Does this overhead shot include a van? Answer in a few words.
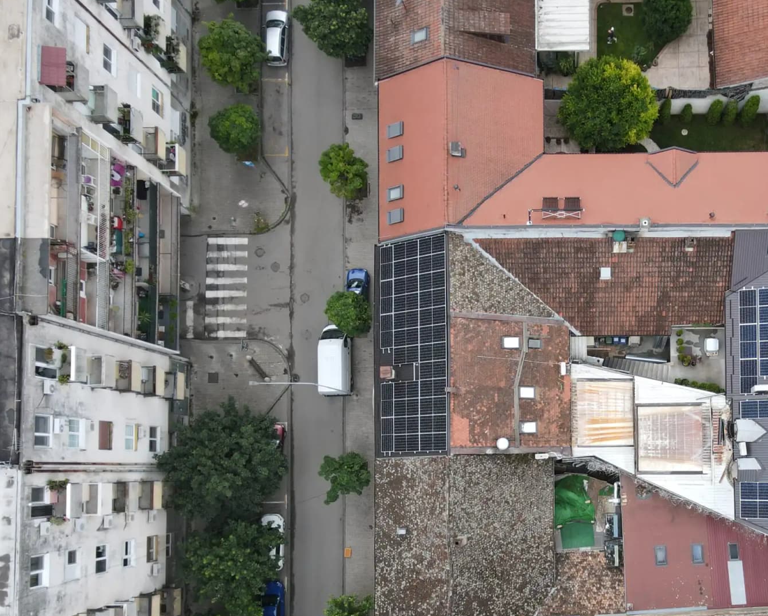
Yes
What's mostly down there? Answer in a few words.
buildings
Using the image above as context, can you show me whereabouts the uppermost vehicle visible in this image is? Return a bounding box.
[261,8,290,64]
